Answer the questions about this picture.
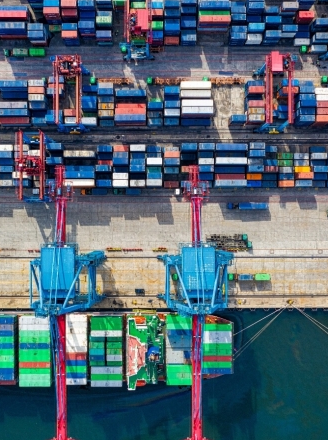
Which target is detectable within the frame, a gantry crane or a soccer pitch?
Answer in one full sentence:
This aerial view contains a gantry crane.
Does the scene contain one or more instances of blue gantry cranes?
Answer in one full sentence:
Yes, there is a blue gantry crane in the image.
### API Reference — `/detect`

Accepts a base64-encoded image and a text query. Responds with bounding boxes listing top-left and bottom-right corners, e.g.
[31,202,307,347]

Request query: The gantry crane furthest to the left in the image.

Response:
[16,131,60,203]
